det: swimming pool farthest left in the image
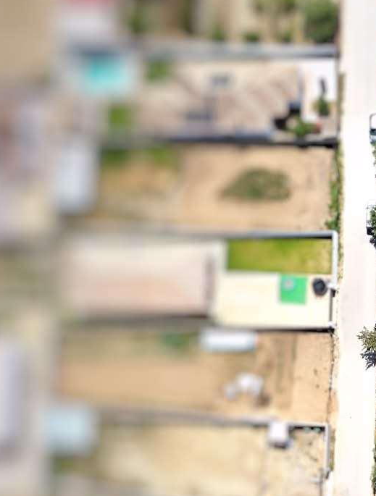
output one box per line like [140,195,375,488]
[74,48,139,99]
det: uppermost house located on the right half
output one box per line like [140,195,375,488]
[171,63,301,137]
